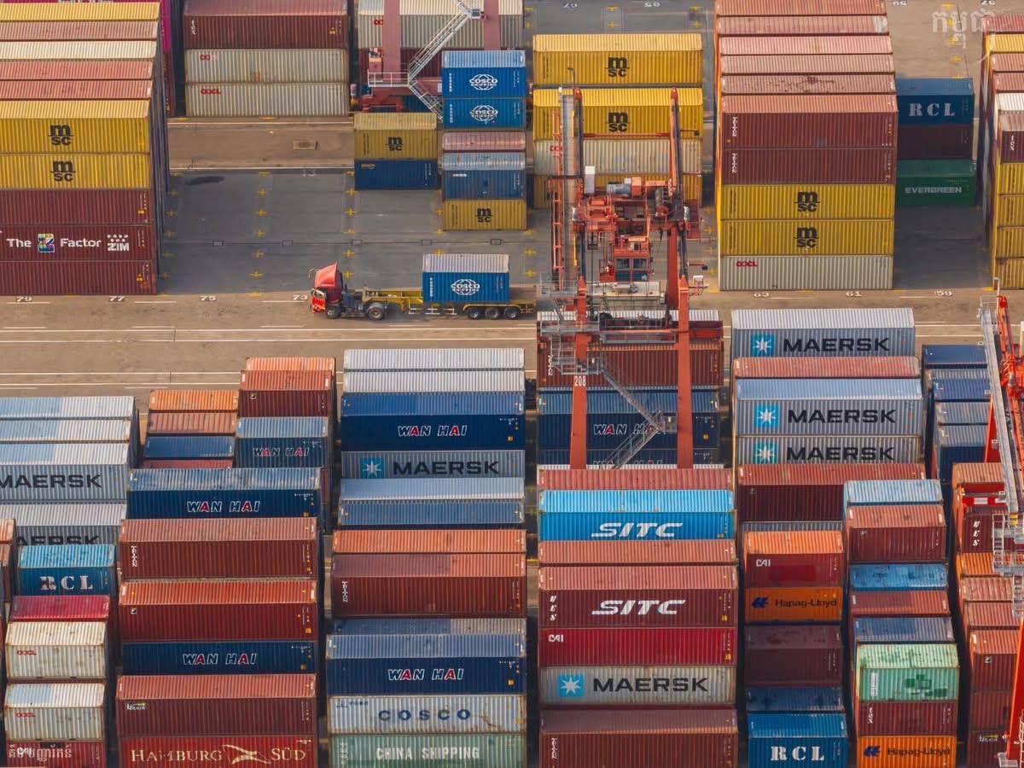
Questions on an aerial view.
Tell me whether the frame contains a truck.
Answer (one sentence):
Yes, a truck can be made out from above.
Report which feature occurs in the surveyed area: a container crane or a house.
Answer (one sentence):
Of the two, only a container crane appears.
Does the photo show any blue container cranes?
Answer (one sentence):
No, the picture doesn't show any blue container crane.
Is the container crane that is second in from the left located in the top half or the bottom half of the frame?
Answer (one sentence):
The top half of the photo is where the container crane that is second in from the left is.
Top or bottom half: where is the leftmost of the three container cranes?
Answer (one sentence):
You can find the leftmost of the three container cranes in the top half.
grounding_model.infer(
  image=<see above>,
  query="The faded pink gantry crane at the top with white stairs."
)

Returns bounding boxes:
[360,0,527,130]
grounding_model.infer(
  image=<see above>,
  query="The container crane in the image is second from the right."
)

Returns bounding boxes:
[533,65,728,469]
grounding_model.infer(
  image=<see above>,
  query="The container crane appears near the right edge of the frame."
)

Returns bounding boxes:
[958,262,1024,768]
